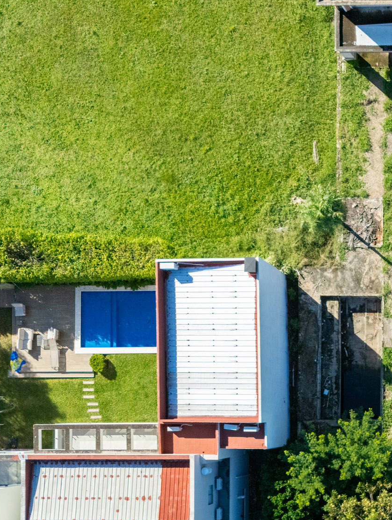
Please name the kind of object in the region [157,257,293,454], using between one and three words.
house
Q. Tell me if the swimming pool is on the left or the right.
left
